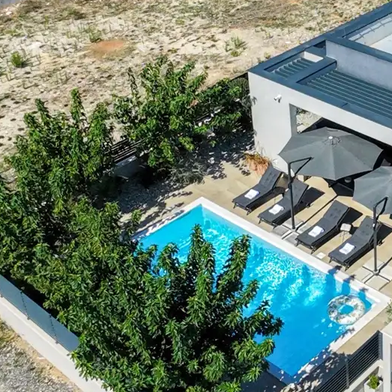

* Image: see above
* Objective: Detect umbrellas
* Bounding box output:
[271,126,386,241]
[350,167,392,290]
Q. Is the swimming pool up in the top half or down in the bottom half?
bottom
